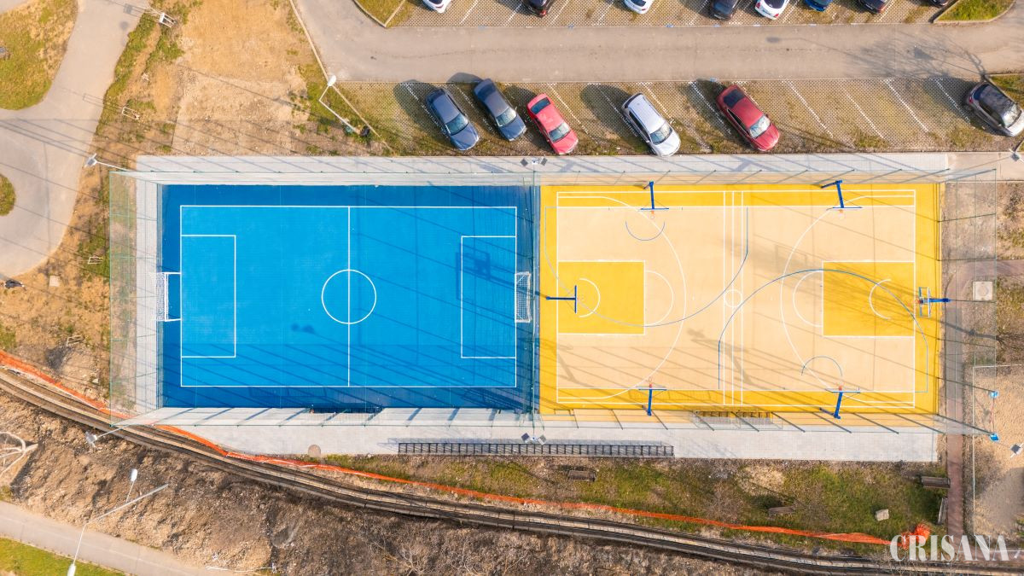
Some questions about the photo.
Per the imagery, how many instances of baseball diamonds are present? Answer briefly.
0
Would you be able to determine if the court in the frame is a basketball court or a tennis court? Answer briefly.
basketball court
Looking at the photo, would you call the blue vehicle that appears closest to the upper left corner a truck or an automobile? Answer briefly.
automobile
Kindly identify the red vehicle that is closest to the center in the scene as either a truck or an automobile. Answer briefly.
automobile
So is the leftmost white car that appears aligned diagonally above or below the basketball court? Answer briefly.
above it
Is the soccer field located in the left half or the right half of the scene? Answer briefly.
left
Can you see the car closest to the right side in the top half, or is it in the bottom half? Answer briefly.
top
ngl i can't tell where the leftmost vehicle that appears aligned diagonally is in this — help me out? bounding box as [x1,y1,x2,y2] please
[427,88,478,151]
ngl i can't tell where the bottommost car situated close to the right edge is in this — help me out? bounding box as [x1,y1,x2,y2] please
[967,79,1024,142]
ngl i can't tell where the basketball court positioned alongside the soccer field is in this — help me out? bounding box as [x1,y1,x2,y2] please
[539,174,944,423]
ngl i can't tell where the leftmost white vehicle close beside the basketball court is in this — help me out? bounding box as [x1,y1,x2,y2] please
[626,93,683,159]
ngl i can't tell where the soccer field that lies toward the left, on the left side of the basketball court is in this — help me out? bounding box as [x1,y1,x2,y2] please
[161,185,539,413]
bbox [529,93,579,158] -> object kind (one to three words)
car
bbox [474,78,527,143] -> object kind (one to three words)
car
